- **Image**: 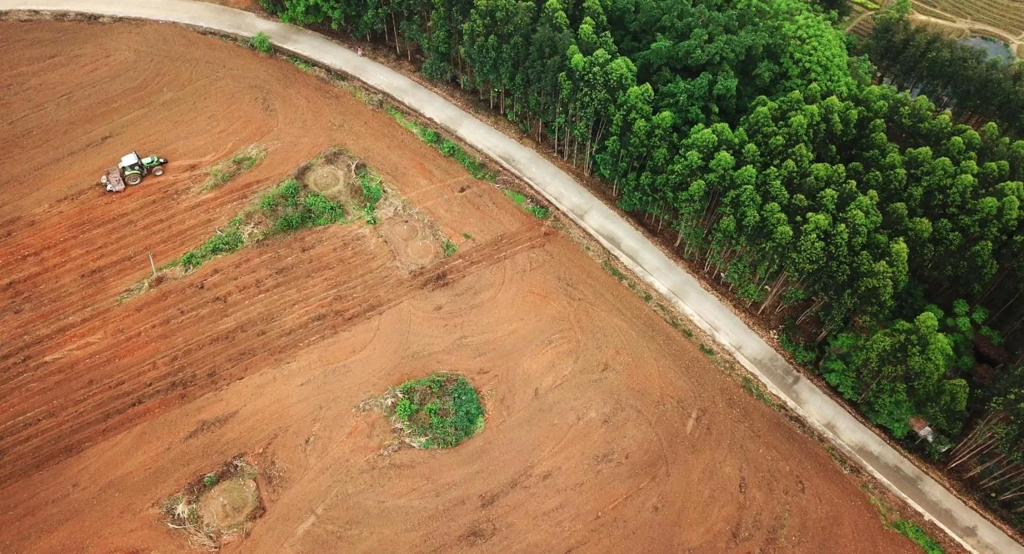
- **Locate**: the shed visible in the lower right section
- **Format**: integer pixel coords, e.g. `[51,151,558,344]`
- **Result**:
[902,415,938,451]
